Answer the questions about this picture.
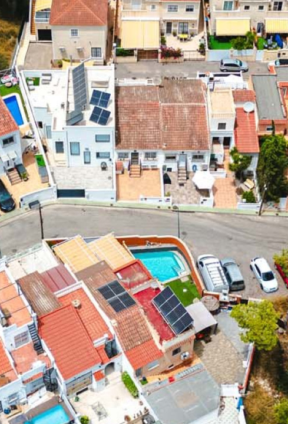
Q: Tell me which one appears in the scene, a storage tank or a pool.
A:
pool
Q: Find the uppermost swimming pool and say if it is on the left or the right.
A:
left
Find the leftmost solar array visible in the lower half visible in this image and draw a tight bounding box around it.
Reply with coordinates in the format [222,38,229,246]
[97,280,137,313]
